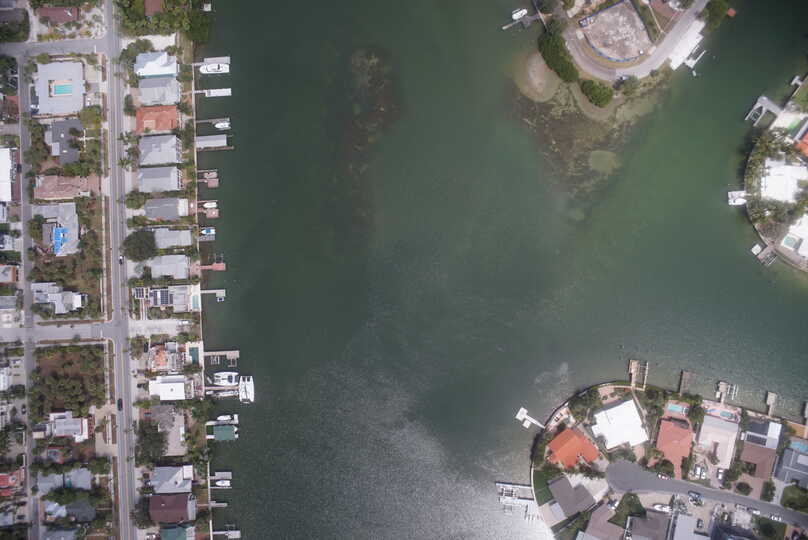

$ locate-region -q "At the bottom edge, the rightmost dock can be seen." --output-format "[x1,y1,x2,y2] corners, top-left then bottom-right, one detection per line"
[495,482,538,515]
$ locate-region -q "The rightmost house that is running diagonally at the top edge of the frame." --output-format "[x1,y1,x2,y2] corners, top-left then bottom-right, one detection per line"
[668,21,705,72]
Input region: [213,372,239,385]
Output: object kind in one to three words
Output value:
boat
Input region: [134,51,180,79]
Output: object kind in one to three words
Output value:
house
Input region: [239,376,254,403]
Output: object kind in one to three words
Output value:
boat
